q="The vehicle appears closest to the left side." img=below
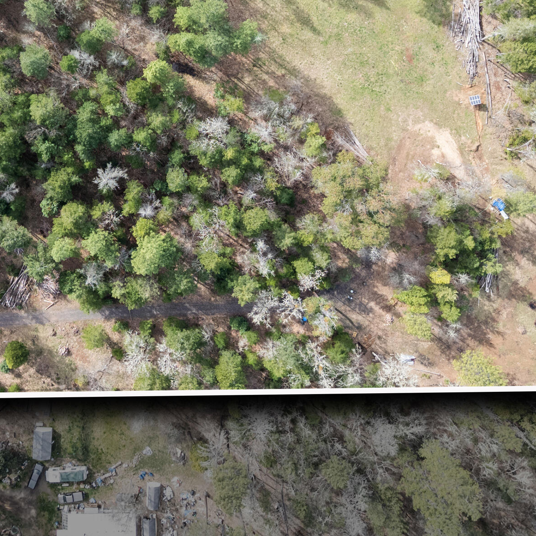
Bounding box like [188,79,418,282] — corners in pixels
[27,464,43,492]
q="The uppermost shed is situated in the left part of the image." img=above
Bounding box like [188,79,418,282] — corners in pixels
[32,424,53,462]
